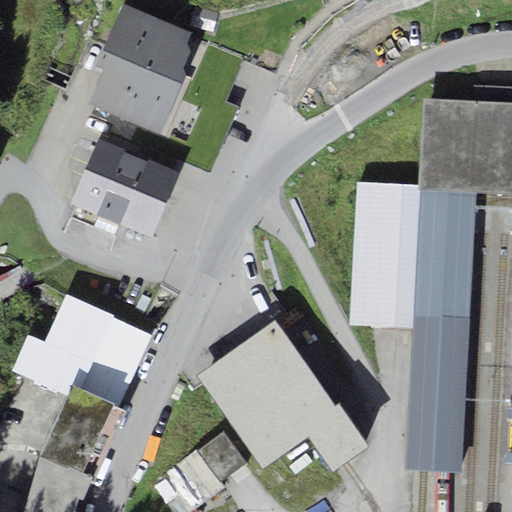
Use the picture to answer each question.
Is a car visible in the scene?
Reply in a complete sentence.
Yes, a car is visible in the scene.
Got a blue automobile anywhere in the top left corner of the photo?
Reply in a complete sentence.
No, I see no blue automobile in the top left corner of the photo.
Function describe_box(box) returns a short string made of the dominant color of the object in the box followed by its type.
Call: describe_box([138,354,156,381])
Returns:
white vehicle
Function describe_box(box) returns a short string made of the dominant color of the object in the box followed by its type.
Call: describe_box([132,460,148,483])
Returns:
white vehicle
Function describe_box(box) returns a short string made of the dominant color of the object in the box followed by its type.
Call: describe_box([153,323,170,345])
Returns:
white car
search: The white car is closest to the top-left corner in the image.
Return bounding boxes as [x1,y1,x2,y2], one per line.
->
[82,42,100,71]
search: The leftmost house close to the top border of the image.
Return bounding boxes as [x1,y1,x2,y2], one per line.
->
[89,4,193,136]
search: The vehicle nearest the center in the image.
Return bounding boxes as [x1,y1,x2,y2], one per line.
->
[244,254,256,278]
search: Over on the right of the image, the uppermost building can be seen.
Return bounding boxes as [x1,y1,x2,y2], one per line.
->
[419,98,512,194]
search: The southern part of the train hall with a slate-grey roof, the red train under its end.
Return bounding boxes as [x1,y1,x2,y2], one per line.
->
[405,316,470,473]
